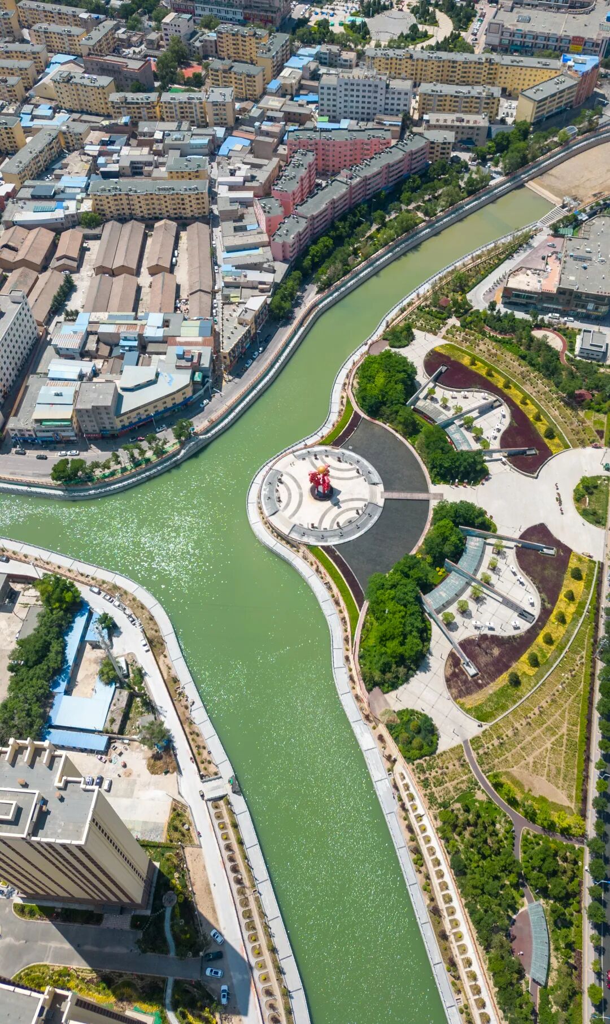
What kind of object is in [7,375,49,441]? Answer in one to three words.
building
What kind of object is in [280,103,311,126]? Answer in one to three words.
house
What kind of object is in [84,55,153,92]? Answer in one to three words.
building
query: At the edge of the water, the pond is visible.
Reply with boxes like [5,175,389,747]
[333,419,429,589]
